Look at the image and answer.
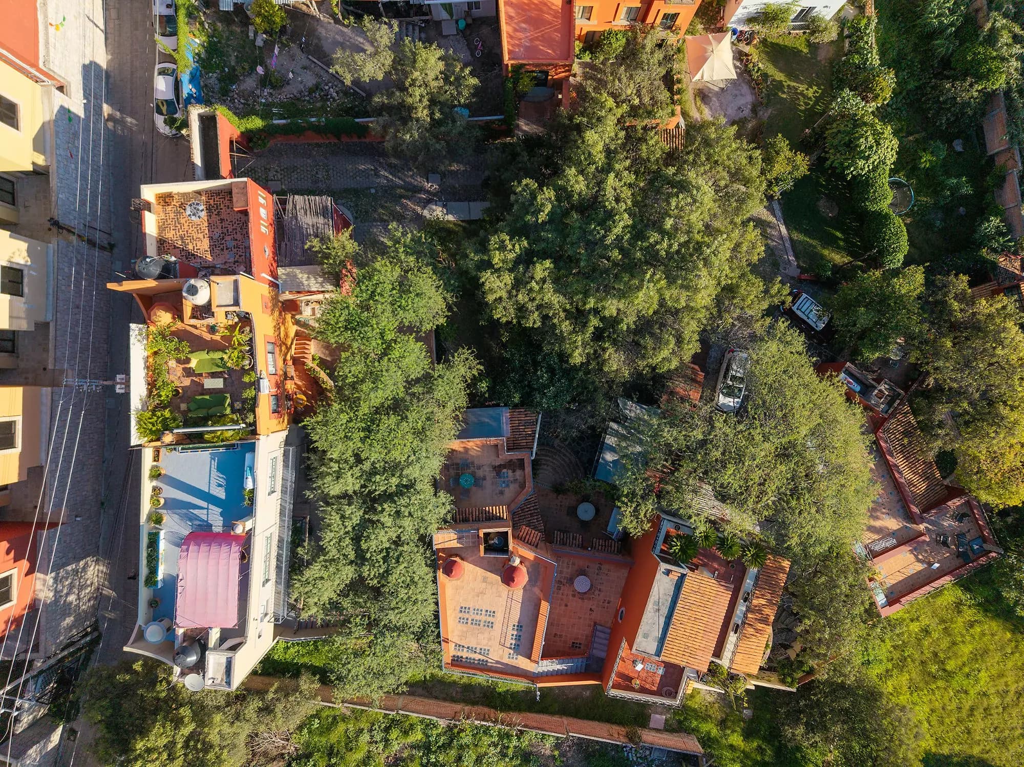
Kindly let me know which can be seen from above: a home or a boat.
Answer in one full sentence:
This aerial view contains a home.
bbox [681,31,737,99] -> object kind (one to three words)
tent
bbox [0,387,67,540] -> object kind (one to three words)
house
